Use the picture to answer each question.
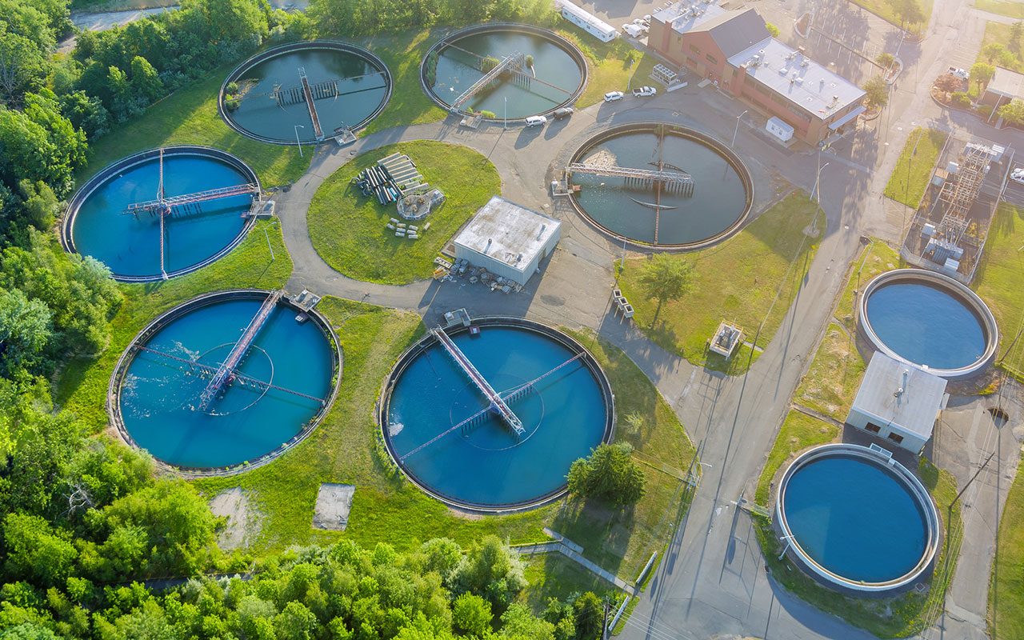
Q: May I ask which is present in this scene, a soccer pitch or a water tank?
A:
water tank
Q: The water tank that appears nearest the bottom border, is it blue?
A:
Yes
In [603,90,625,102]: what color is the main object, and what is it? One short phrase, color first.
white vehicle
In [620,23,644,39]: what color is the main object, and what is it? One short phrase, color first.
white vehicle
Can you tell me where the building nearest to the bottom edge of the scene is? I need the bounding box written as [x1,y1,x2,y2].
[844,349,950,455]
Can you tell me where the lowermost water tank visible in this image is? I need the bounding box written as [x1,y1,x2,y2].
[772,439,942,596]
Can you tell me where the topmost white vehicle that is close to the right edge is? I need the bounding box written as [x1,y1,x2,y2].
[947,64,973,81]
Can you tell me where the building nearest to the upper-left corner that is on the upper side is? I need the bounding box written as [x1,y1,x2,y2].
[453,194,562,287]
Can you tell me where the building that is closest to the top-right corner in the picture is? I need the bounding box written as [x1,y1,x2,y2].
[978,69,1024,133]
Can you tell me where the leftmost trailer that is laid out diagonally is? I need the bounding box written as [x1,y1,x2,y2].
[562,0,620,44]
